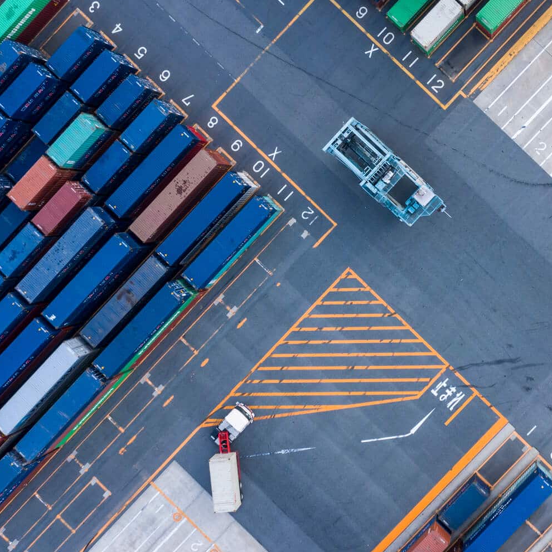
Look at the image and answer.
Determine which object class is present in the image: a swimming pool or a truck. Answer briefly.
truck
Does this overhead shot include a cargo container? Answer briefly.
Yes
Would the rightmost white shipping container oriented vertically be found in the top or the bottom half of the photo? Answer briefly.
bottom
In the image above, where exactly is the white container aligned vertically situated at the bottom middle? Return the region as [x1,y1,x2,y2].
[209,453,241,514]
